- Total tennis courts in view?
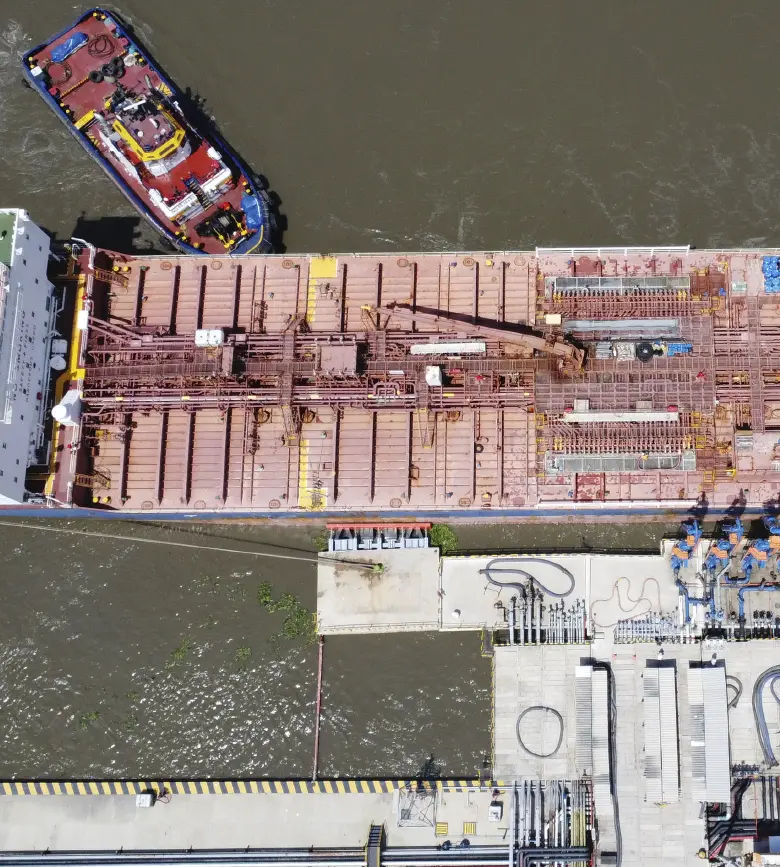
0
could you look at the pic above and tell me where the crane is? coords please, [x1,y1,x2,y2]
[373,301,586,378]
